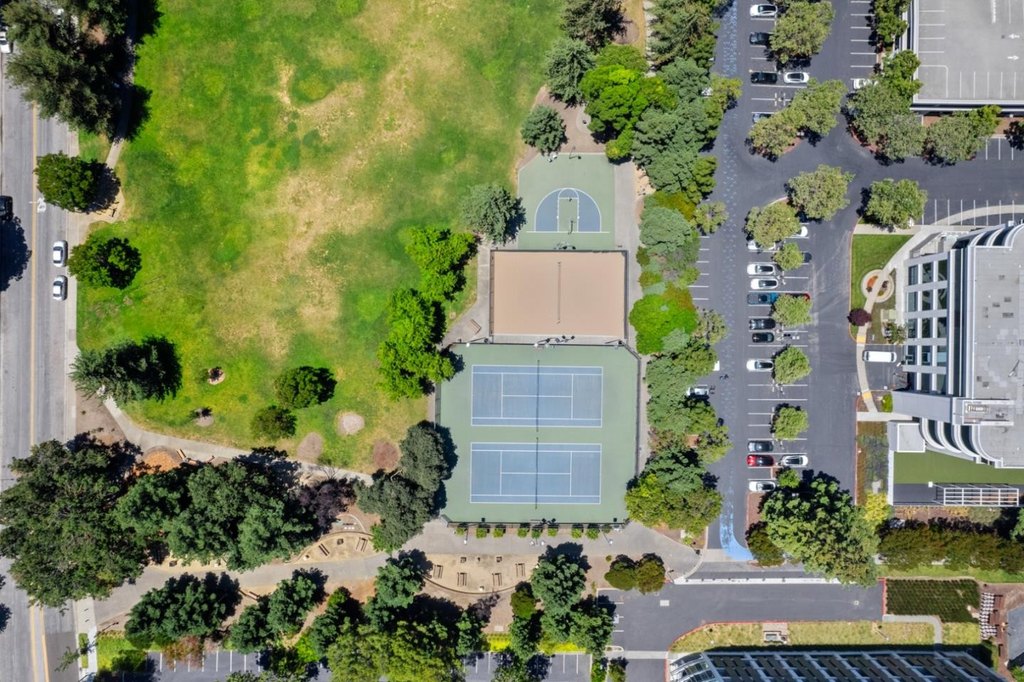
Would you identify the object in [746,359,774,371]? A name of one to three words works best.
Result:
vehicle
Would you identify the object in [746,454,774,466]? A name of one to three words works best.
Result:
vehicle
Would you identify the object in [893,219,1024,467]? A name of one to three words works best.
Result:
building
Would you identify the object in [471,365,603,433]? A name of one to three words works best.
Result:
tennis court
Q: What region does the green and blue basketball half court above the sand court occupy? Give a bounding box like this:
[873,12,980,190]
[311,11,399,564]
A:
[517,152,615,248]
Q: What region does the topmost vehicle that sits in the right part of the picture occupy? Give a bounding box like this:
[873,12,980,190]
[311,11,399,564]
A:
[749,4,776,18]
